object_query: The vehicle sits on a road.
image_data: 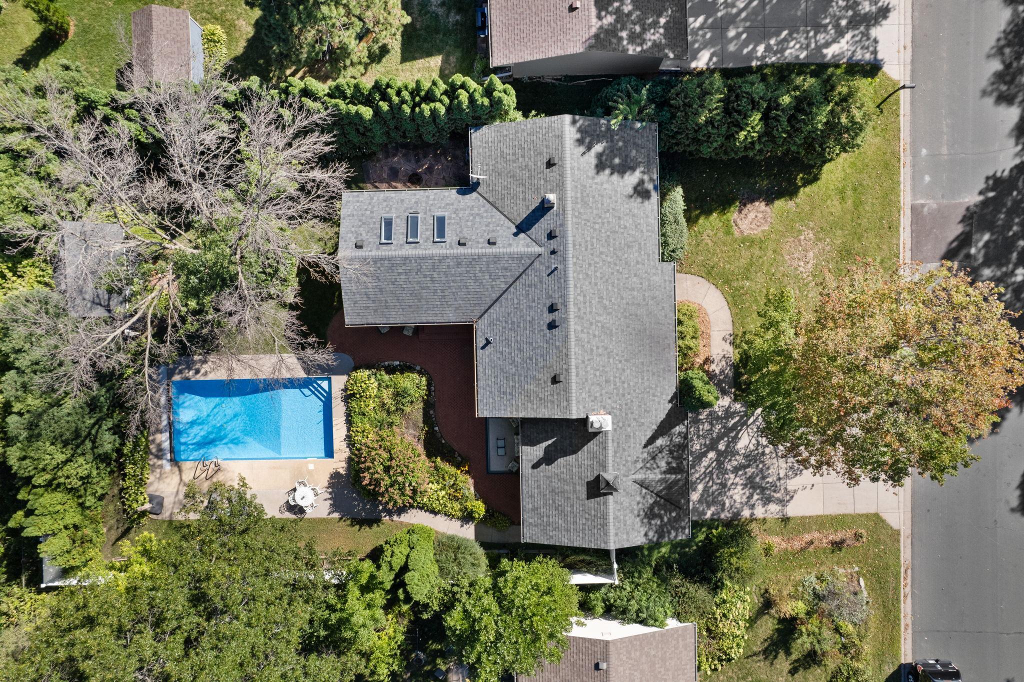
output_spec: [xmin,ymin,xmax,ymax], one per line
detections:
[914,655,961,682]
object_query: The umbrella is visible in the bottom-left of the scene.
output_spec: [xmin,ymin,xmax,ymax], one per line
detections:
[133,495,163,515]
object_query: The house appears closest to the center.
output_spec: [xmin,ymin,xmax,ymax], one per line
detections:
[341,115,693,549]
